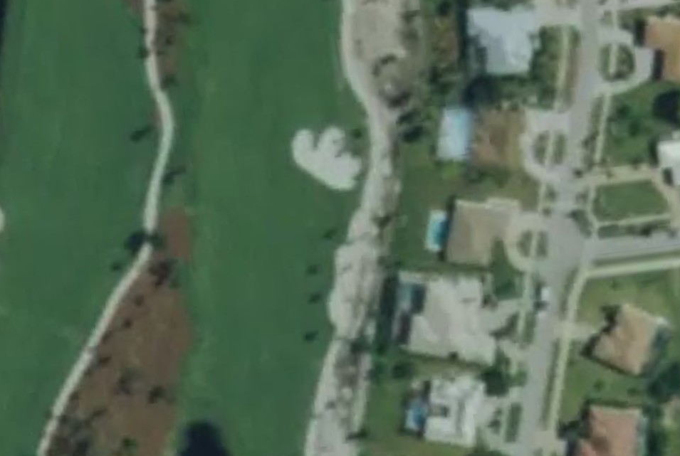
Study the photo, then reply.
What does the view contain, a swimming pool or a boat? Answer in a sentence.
It is a swimming pool that can be seen here.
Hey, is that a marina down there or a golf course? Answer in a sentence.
The area seen from above is a golf course.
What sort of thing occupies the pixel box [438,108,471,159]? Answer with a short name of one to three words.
swimming pool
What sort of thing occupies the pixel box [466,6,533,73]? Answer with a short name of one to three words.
house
